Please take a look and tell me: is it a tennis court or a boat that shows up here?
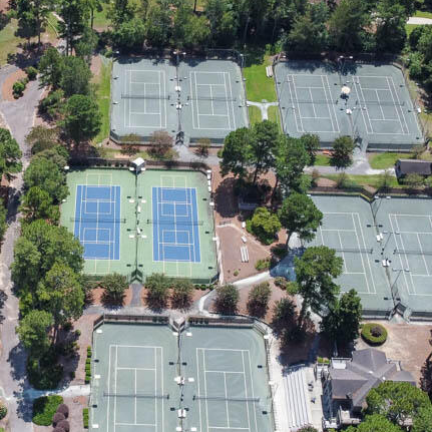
tennis court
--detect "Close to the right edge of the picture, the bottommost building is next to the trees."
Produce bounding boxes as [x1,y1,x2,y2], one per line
[306,343,419,432]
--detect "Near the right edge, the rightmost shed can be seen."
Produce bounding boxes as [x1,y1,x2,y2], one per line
[392,160,432,184]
